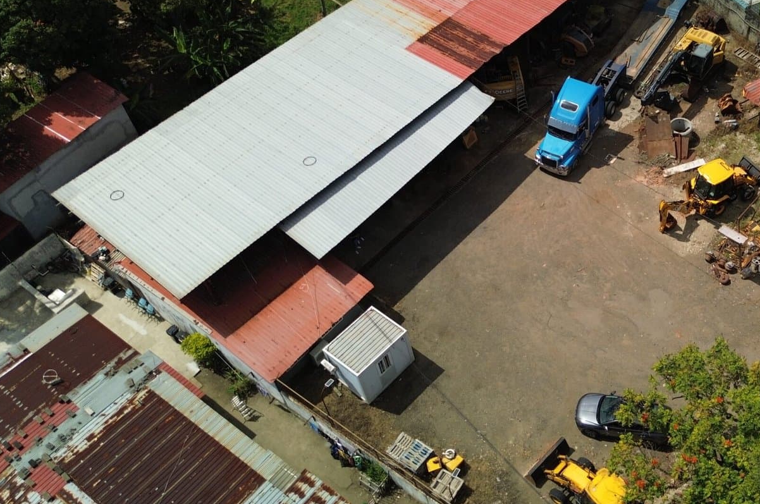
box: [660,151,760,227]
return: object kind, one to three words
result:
work vehicle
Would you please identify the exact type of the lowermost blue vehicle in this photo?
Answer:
truck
